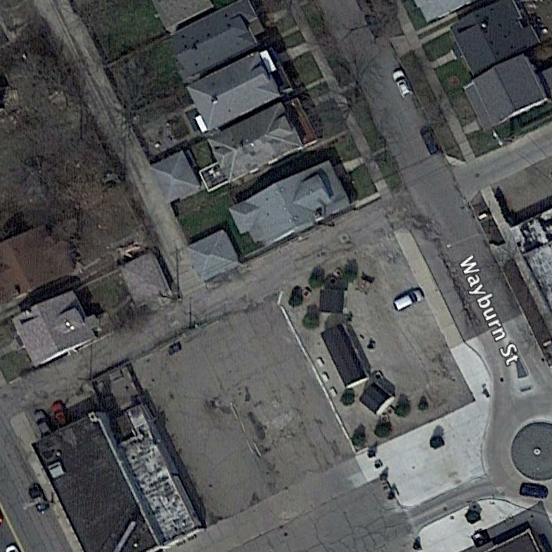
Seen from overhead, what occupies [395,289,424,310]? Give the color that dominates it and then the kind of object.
white car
